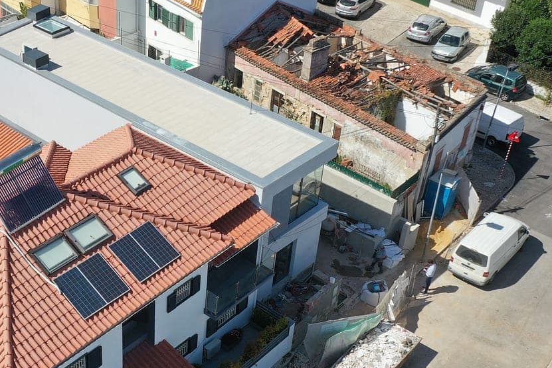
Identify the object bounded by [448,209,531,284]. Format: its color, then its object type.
white van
